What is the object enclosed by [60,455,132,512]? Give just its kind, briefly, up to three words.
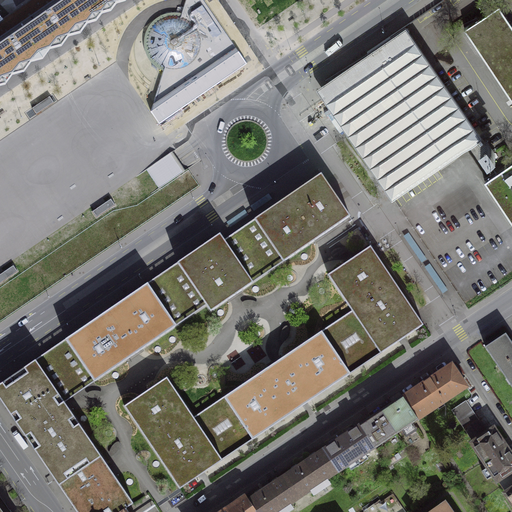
building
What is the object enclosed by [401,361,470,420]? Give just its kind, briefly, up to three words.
house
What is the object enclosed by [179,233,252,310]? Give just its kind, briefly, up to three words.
building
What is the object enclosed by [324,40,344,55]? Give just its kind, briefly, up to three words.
vehicle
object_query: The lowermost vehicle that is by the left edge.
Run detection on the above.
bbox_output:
[13,430,29,449]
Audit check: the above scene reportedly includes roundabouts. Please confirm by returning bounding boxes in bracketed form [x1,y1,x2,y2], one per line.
[222,116,272,166]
